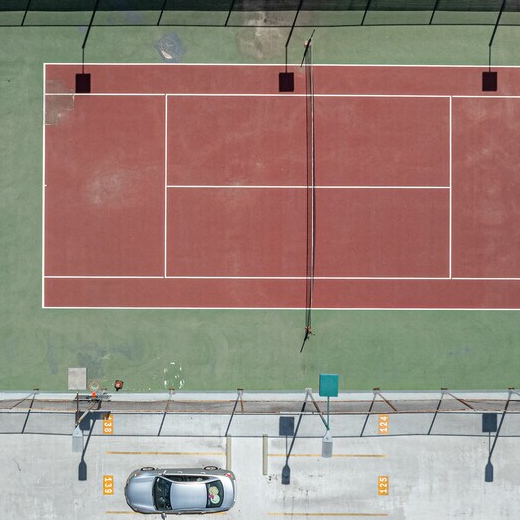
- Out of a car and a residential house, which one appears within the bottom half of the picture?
car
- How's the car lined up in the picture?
from left to right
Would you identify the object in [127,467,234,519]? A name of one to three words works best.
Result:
car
